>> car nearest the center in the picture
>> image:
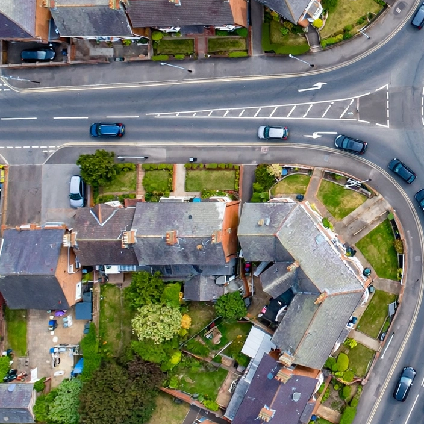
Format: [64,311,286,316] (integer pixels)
[258,123,292,141]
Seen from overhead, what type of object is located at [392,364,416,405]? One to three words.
car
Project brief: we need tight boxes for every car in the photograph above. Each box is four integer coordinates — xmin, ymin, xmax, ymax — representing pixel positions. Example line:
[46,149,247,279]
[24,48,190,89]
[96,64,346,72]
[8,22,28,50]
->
[408,0,424,34]
[415,188,424,214]
[17,45,58,63]
[392,364,416,405]
[67,174,86,208]
[334,133,369,155]
[92,121,127,139]
[258,123,292,141]
[387,155,418,187]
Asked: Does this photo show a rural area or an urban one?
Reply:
urban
